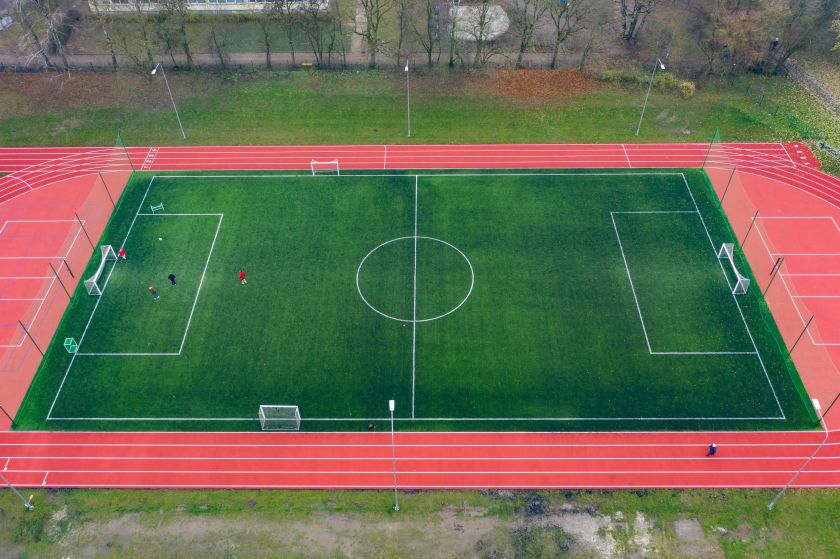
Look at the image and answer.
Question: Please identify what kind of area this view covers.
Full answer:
It's a sports ground.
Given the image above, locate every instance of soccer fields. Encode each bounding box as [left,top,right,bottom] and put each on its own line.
[9,167,821,432]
